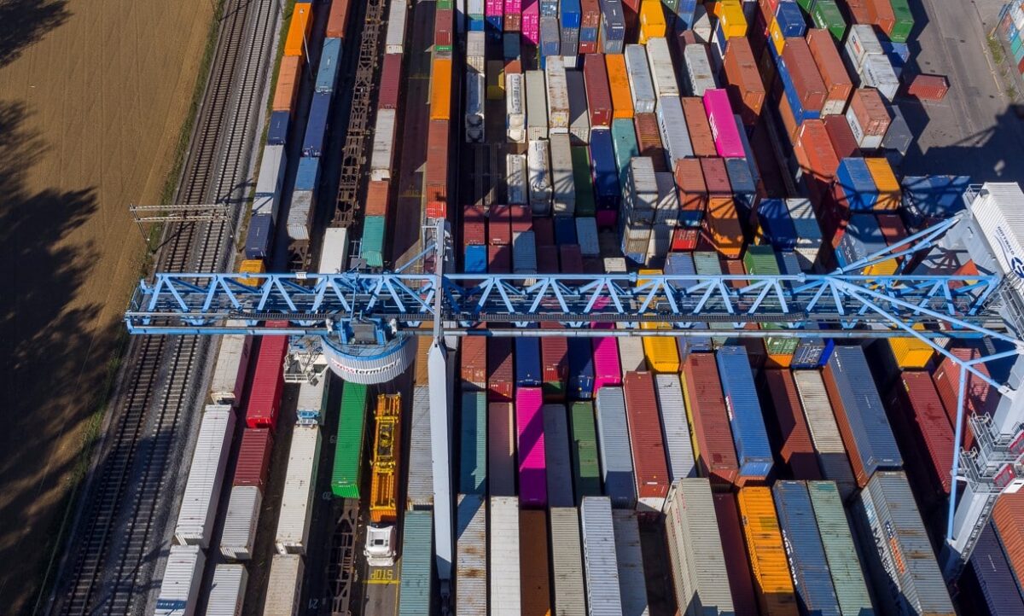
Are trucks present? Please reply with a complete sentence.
Yes, a truck appears in the view.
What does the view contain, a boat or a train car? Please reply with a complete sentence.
Looking from above, you can make out a train car.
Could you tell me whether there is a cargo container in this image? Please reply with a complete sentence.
Yes, the picture does show a cargo container.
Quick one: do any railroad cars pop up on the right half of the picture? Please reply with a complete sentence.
No, the scene shows no railroad car on the right half of the picture.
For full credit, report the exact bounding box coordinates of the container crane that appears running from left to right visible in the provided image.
[120,187,1024,616]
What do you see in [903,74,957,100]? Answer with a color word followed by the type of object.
red shipping container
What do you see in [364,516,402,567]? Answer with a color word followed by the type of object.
white truck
